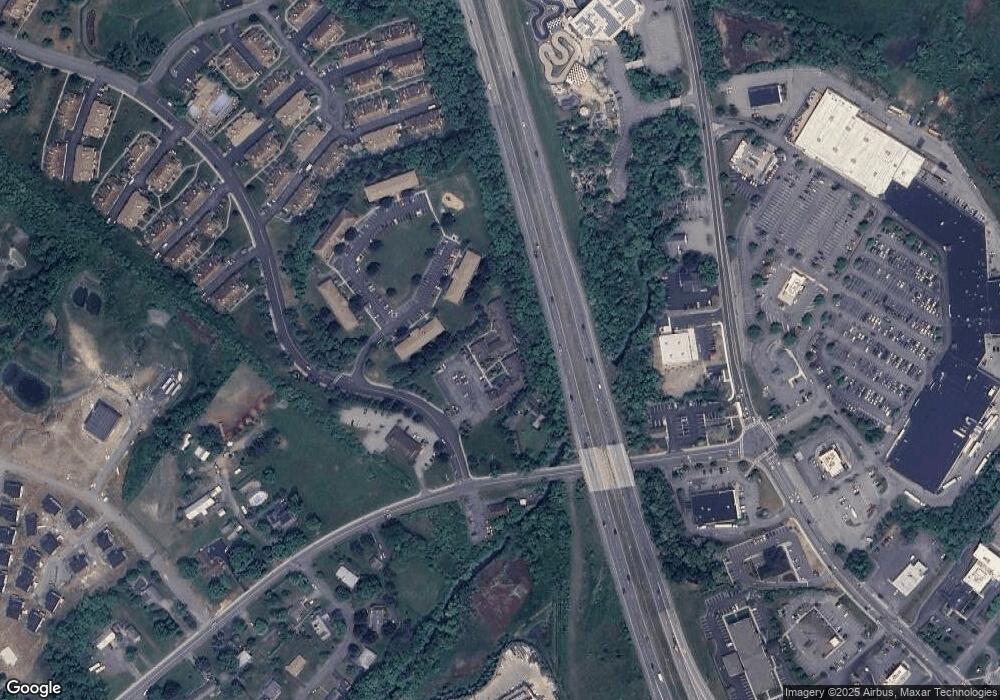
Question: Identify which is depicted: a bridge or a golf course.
bridge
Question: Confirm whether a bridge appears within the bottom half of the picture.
Yes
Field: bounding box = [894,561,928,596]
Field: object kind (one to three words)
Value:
building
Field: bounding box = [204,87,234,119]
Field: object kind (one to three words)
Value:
swimming pool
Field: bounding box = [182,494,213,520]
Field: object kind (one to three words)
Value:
barn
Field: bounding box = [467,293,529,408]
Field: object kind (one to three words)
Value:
house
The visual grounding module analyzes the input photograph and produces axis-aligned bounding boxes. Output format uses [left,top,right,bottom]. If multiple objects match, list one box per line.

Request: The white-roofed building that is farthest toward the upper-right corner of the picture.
[792,89,926,202]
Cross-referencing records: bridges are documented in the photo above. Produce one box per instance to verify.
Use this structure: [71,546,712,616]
[581,436,633,495]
